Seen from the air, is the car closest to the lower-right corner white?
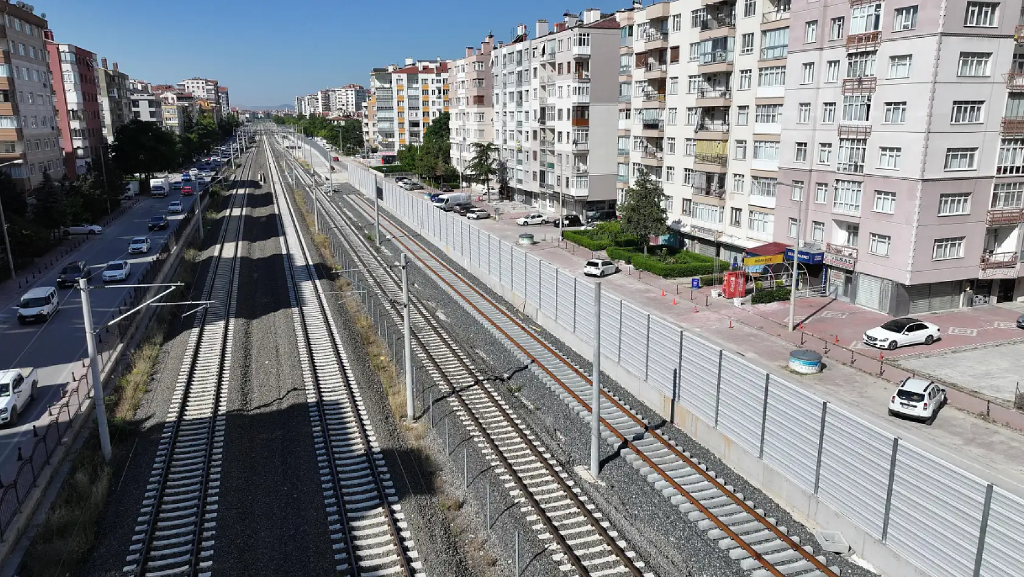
Yes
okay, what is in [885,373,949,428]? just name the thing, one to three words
car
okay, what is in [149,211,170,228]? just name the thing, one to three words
car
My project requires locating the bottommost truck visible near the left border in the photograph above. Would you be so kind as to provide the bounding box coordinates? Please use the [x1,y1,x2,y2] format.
[0,366,39,421]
